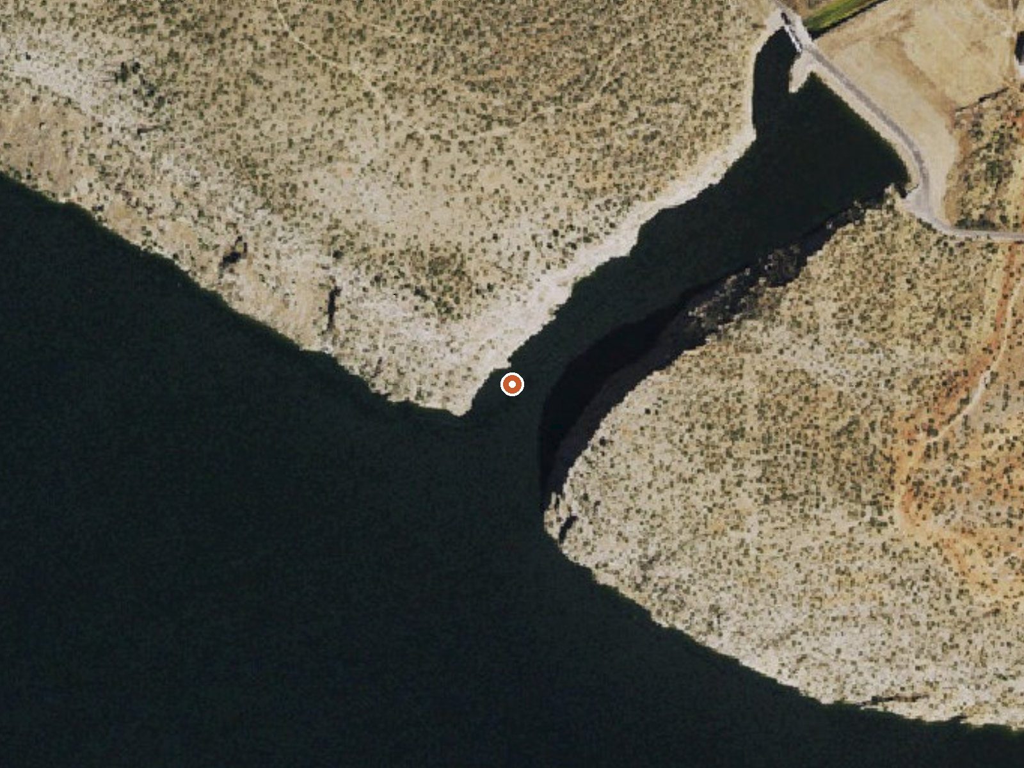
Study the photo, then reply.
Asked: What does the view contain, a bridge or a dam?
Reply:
dam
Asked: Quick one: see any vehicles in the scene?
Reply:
No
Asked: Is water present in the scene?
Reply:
Yes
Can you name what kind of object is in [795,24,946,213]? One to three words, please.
dam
